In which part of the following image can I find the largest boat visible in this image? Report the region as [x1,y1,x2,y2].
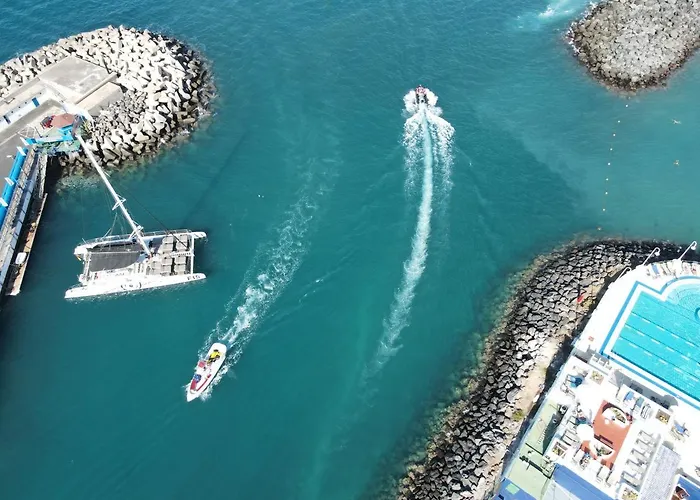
[64,140,211,300]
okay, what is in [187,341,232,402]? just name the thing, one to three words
boat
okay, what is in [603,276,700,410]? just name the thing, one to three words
swimming pool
